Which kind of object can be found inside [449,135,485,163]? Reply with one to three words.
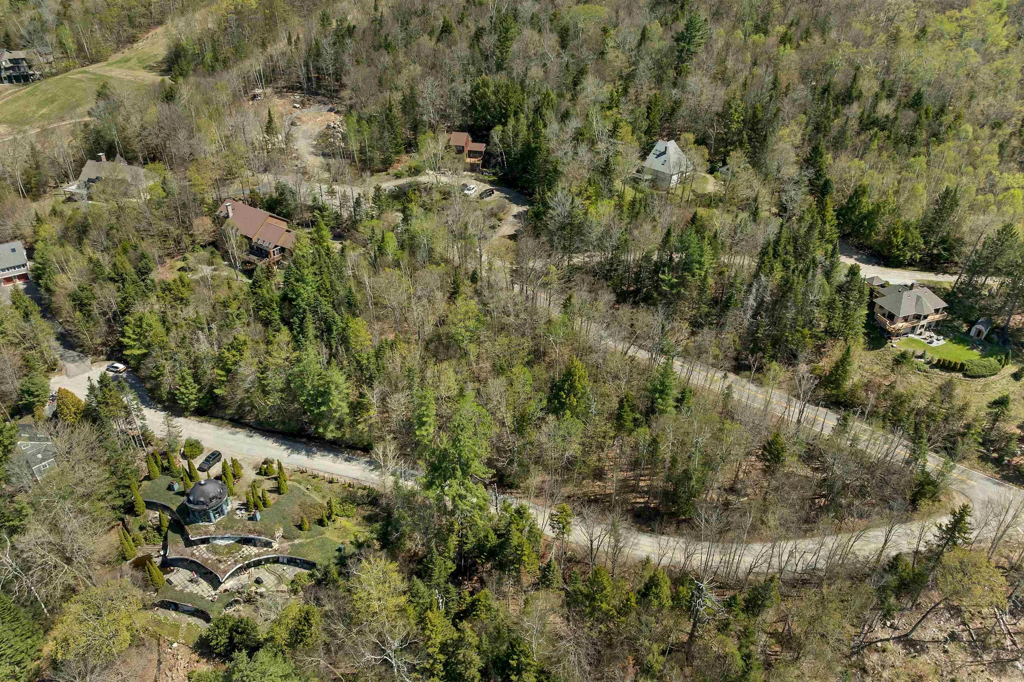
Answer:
building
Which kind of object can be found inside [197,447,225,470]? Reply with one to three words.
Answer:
car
